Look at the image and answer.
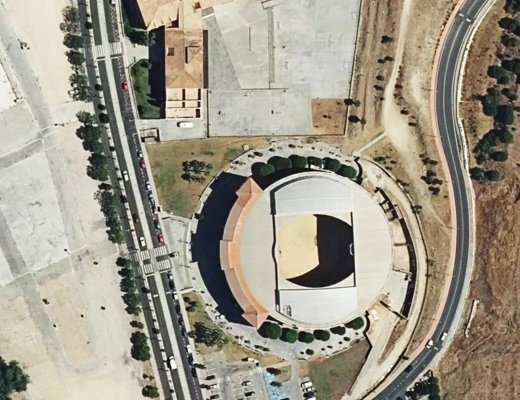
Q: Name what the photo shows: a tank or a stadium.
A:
stadium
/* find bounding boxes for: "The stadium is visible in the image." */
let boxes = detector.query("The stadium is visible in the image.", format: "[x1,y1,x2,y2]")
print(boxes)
[219,171,394,330]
